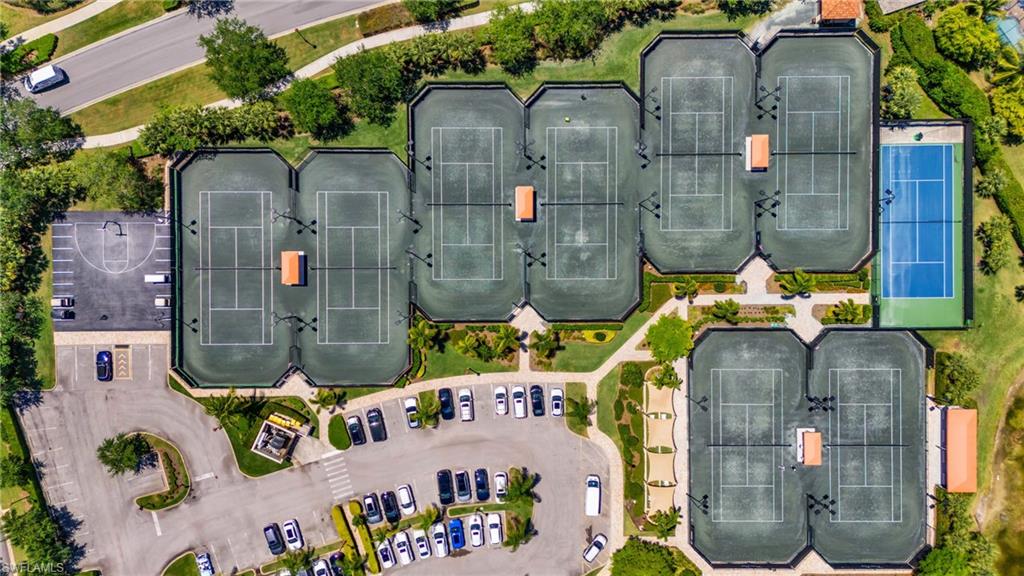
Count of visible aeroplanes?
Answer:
none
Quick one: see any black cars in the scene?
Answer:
Yes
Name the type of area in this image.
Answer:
sports ground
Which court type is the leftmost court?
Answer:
basketball court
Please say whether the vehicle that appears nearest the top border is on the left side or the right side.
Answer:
left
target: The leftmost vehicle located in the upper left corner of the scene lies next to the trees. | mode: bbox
[27,64,66,91]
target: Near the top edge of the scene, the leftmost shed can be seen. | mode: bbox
[810,0,863,30]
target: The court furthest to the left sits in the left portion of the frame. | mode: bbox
[75,222,156,276]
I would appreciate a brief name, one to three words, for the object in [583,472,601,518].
vehicle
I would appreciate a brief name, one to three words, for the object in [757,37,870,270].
tennis court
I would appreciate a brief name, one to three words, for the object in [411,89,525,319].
tennis court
